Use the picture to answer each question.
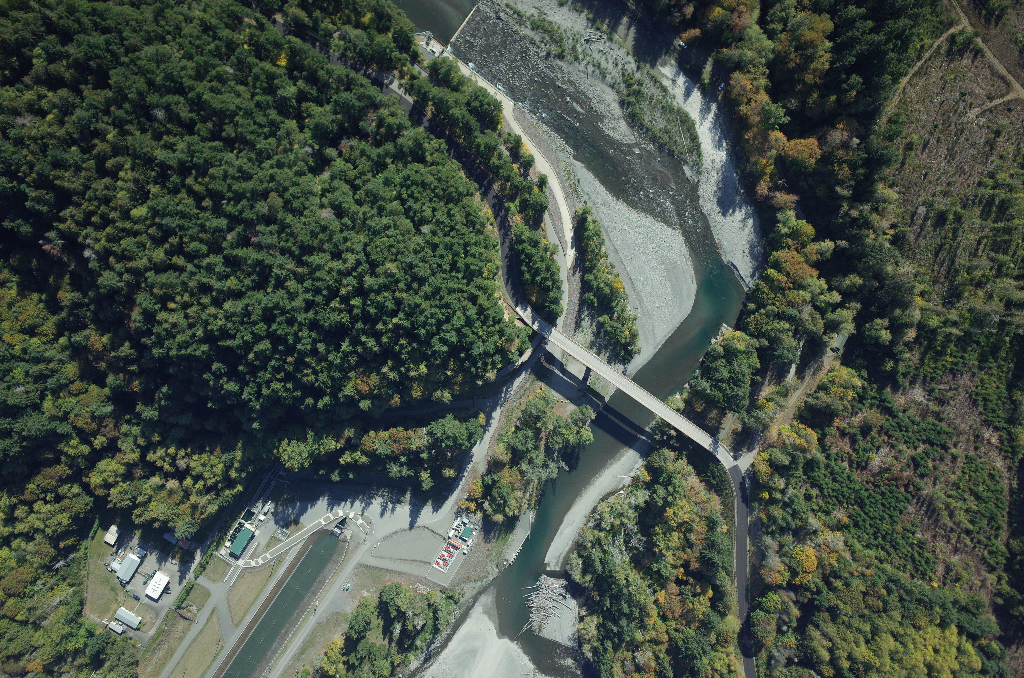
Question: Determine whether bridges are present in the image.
Yes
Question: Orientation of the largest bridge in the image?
diagonally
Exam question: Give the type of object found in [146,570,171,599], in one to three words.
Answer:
house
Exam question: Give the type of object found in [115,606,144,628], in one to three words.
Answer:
house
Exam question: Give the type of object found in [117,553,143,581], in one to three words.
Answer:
building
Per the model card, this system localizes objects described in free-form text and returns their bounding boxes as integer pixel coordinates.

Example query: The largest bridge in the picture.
[516,301,738,470]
